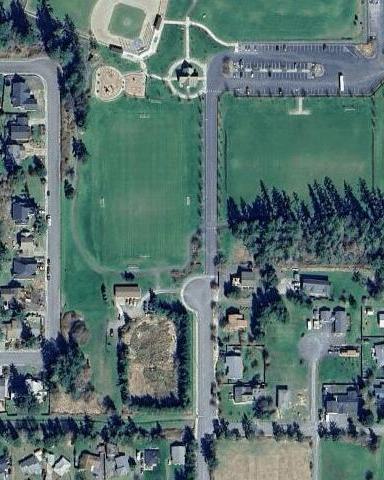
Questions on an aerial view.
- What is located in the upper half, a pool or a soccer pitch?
soccer pitch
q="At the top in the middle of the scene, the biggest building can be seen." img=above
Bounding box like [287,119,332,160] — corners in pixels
[179,71,199,87]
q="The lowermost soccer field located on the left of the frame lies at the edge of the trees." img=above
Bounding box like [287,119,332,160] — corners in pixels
[74,100,198,265]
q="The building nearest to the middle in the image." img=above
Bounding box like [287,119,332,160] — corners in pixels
[233,269,256,287]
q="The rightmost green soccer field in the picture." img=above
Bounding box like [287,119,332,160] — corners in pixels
[227,98,372,210]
